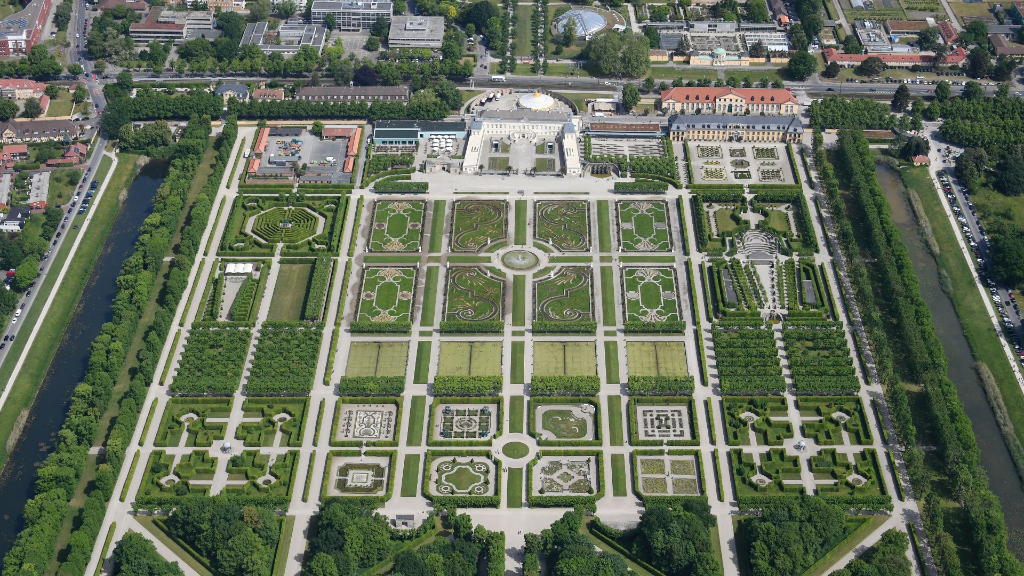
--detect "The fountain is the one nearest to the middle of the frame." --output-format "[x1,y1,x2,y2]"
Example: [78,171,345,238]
[501,249,538,269]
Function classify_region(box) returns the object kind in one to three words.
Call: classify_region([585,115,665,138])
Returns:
building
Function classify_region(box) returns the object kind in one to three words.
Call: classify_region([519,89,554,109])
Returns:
tent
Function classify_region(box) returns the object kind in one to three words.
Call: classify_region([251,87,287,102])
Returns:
house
